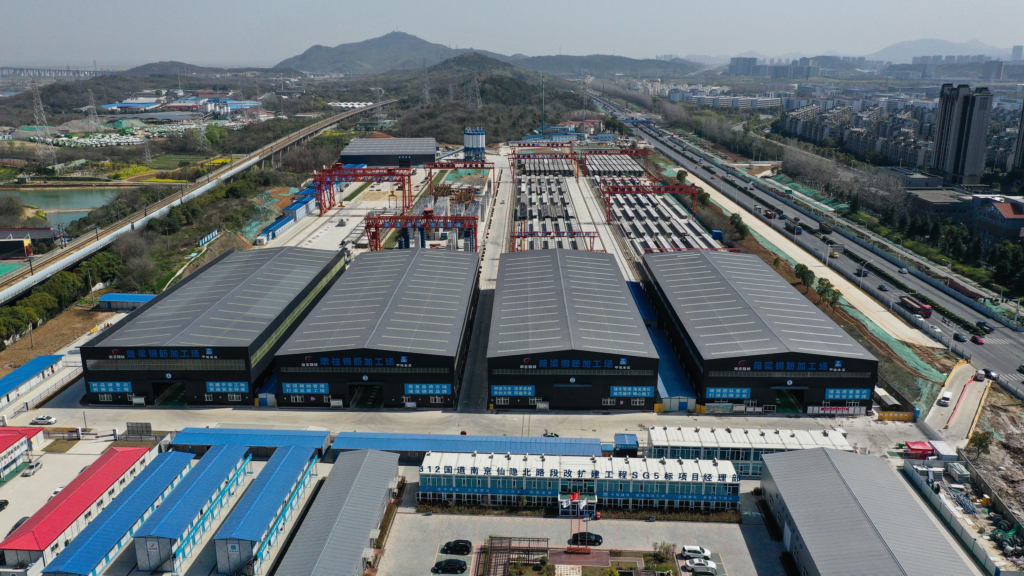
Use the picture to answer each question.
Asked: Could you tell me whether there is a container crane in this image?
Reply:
Yes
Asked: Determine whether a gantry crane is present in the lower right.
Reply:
No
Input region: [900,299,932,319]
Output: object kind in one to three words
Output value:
vehicle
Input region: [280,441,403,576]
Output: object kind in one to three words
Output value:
building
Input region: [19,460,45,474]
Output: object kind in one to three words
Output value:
car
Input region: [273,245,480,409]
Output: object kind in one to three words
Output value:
shed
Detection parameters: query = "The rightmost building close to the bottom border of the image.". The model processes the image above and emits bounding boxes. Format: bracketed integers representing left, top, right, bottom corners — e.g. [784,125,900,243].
[760,446,984,576]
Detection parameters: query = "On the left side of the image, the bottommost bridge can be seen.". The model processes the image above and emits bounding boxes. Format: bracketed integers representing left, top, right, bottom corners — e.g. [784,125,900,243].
[0,101,388,310]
